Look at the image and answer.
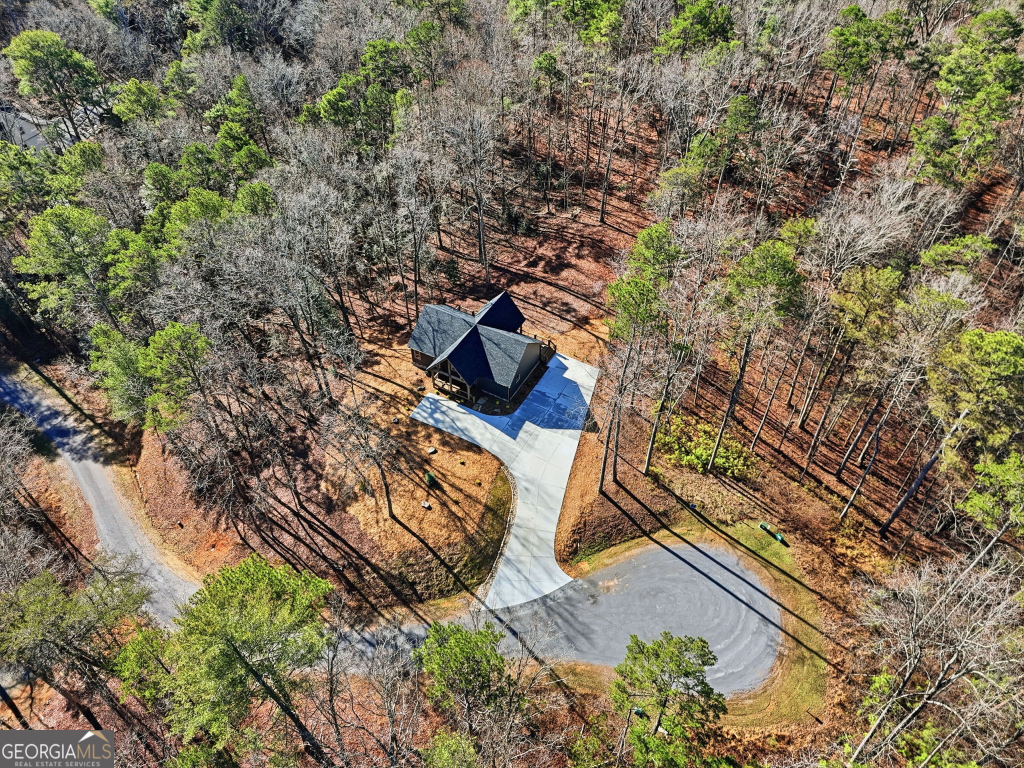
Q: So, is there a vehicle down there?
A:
No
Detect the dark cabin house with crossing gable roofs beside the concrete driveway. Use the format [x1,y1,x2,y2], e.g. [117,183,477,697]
[407,290,558,405]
